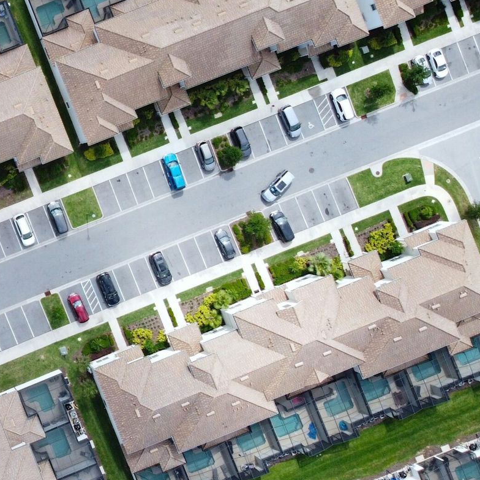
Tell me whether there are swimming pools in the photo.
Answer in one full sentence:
Yes, the image includes a swimming pool.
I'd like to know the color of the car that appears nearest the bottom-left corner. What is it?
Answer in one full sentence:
From above, the car that appears nearest the bottom-left corner appears red.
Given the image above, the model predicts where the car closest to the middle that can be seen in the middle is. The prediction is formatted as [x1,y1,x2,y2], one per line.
[214,227,237,261]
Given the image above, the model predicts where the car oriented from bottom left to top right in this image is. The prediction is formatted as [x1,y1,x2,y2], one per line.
[261,170,294,201]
